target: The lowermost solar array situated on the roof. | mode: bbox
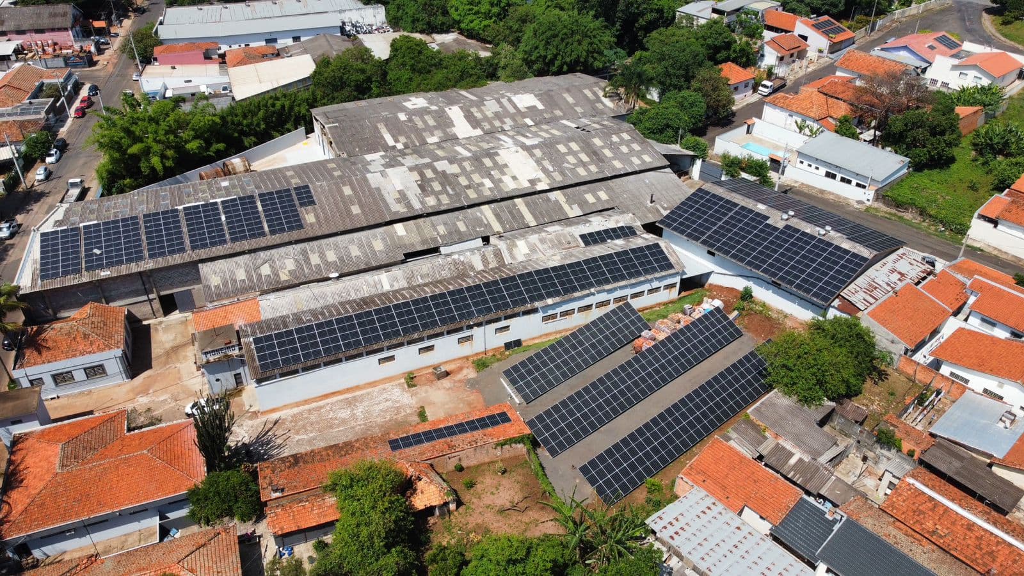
[389,412,511,451]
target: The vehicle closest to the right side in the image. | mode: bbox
[912,250,947,269]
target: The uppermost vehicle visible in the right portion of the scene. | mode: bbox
[765,81,785,94]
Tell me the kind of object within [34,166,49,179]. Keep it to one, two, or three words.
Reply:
vehicle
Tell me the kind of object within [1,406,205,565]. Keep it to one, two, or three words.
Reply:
house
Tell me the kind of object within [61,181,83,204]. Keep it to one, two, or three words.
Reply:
truck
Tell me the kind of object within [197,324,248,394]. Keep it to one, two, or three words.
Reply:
building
